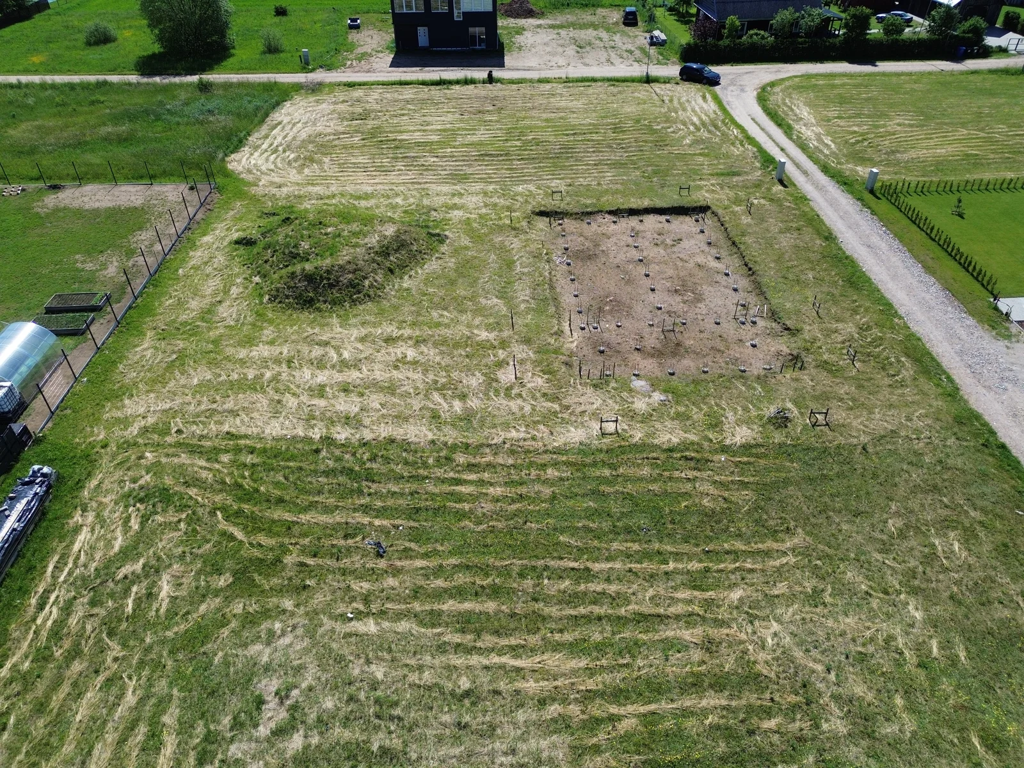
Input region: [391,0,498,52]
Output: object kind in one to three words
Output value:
house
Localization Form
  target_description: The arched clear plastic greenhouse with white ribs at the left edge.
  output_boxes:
[0,318,69,405]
